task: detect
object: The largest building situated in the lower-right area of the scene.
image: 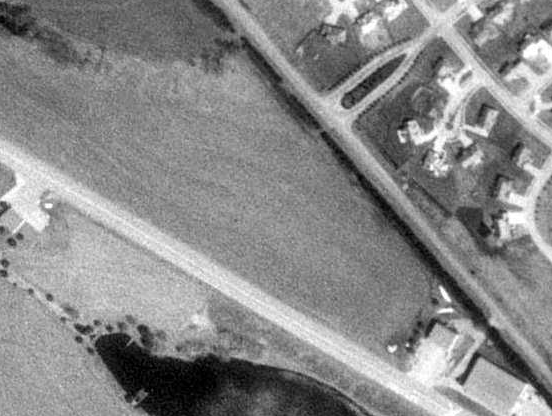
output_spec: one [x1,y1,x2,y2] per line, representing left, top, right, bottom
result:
[464,358,526,412]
